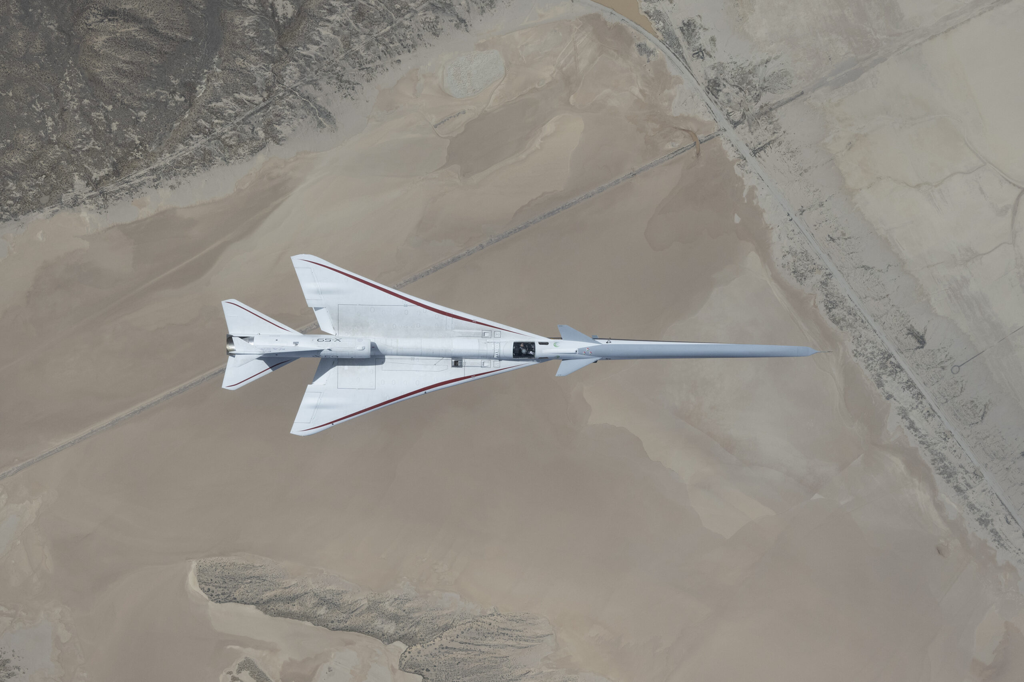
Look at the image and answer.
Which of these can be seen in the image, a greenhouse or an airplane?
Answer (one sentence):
Looking from above, you can make out an airplane.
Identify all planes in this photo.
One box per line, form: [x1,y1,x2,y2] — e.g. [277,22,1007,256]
[222,254,833,436]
